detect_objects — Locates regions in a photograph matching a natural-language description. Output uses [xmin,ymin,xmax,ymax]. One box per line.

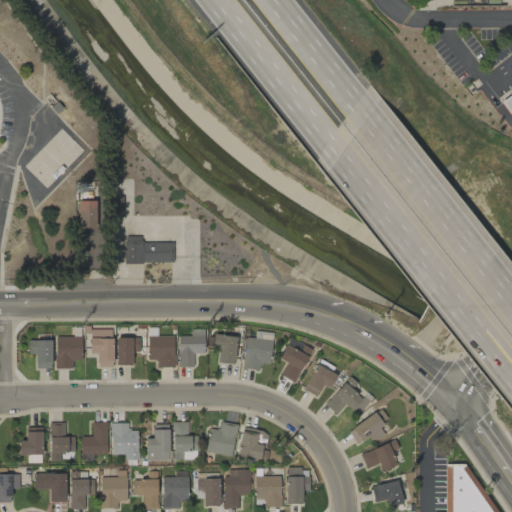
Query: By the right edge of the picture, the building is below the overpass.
[448,464,498,512]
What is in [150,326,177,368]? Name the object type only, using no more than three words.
house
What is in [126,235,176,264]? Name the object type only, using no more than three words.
building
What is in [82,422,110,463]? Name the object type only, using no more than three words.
house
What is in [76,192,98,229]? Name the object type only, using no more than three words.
building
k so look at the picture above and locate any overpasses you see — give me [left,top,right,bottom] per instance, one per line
[324,86,512,408]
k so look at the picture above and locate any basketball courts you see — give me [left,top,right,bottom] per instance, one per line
[26,129,84,188]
